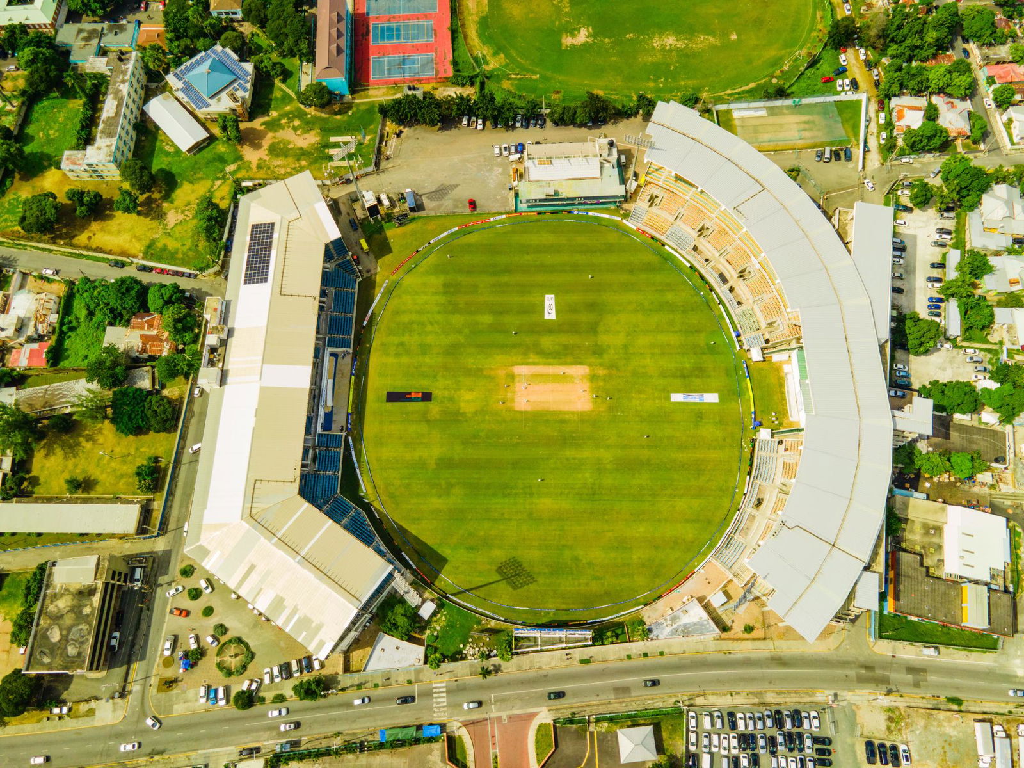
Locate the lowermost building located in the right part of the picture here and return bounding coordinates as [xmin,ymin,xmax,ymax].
[618,727,657,763]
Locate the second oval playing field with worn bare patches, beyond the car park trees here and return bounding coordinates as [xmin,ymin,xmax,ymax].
[474,0,830,95]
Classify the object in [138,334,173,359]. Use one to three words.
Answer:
house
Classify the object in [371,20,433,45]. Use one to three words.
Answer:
tennis court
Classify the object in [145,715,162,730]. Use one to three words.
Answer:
car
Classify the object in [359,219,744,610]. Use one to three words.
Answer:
sports field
